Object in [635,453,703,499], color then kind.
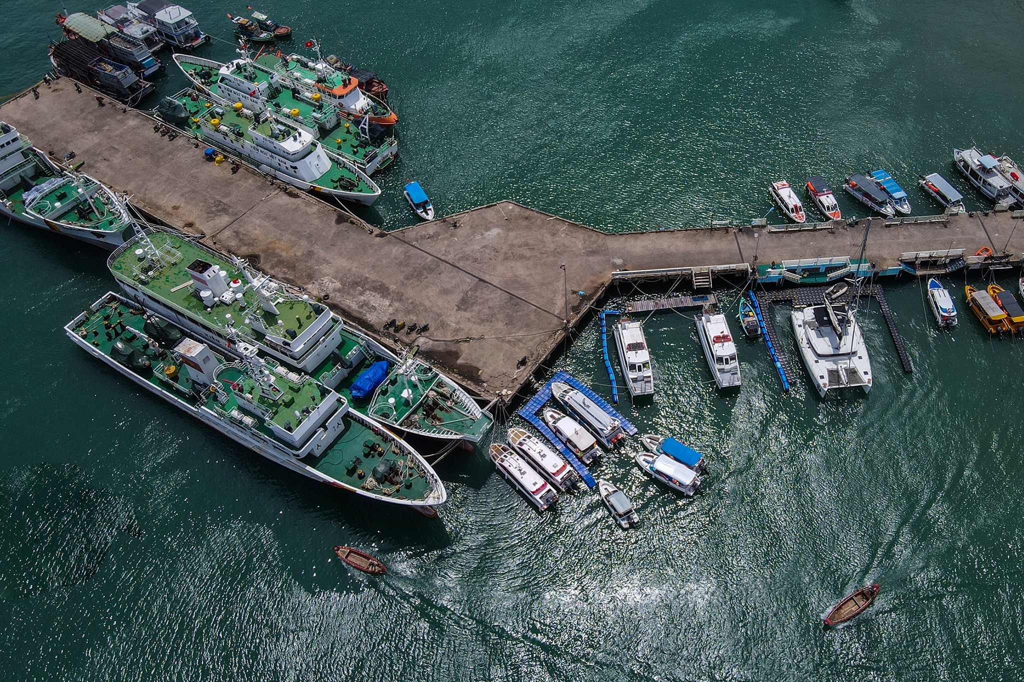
white boat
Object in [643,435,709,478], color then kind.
blue boat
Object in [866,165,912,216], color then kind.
blue boat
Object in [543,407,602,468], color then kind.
white boat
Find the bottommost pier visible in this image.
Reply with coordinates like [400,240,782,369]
[519,373,639,490]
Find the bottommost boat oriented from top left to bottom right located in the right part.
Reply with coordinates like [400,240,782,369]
[598,482,640,533]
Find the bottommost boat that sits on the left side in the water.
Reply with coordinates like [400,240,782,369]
[333,546,403,582]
